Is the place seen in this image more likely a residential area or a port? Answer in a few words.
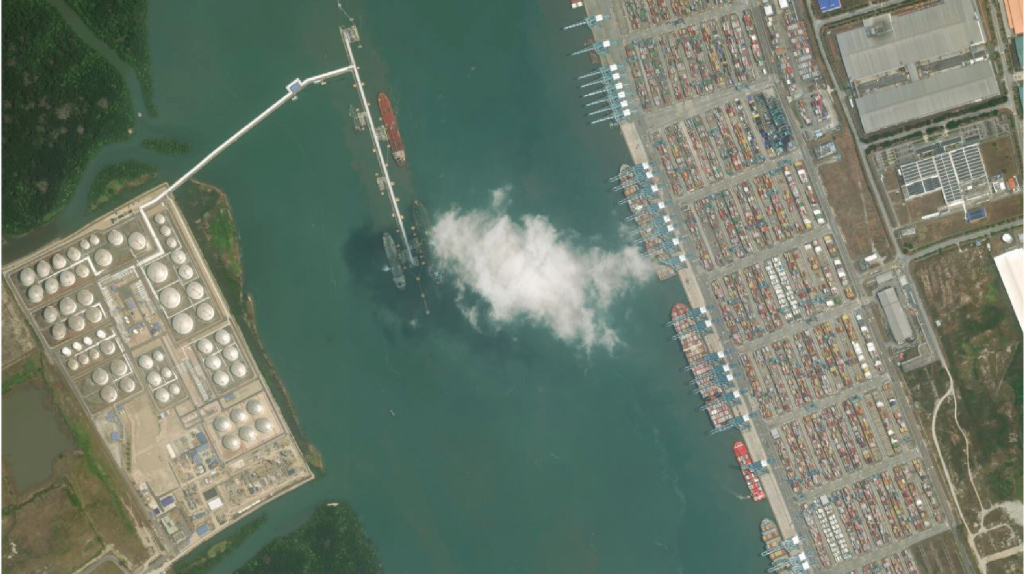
port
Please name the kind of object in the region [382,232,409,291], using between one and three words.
ship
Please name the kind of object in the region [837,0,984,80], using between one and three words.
building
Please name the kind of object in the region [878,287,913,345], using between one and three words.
building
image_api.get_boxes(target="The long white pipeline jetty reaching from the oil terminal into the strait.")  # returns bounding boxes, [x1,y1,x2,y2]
[139,2,427,311]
